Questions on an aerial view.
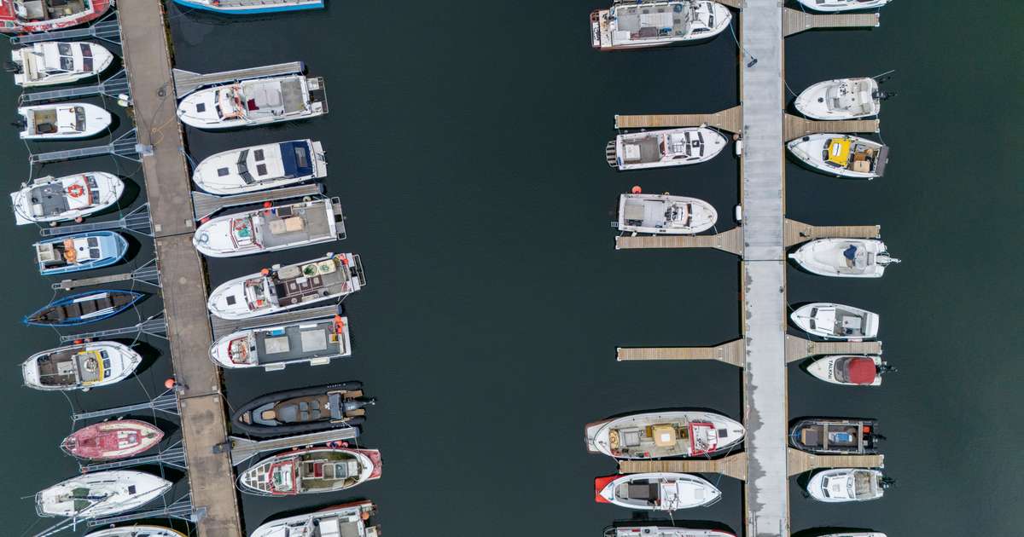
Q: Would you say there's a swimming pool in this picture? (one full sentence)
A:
No, there is no swimming pool in the image.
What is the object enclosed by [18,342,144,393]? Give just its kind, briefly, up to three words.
boat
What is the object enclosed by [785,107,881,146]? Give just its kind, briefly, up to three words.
pier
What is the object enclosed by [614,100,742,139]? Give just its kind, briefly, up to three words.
pier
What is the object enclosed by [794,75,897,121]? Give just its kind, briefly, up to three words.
boat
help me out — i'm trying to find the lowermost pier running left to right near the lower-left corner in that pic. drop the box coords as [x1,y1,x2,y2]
[89,494,193,528]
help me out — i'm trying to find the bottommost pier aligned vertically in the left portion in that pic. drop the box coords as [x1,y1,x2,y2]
[176,392,242,537]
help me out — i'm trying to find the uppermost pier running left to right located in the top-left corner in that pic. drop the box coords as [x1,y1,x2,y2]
[10,10,122,44]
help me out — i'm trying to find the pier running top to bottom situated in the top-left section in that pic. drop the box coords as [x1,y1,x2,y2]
[116,0,195,236]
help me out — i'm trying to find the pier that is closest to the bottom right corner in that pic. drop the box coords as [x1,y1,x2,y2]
[788,443,885,482]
